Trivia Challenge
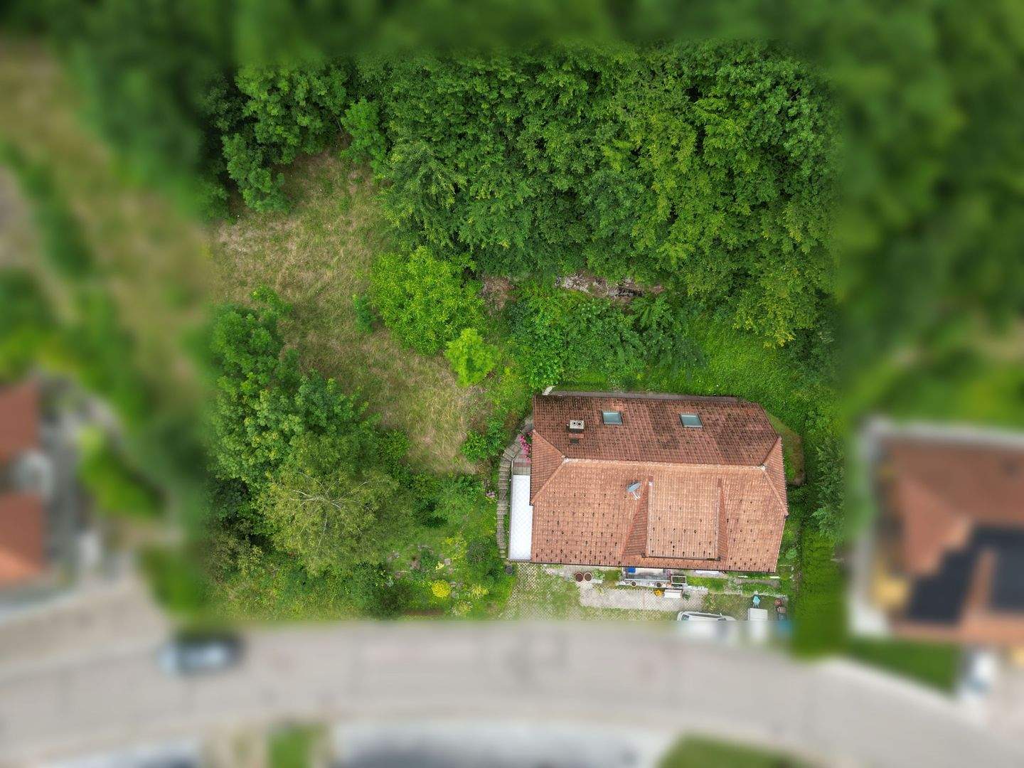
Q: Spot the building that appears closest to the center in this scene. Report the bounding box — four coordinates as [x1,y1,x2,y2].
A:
[527,393,790,574]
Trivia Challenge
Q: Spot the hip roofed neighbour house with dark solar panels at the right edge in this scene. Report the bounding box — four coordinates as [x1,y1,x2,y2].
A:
[870,435,1024,651]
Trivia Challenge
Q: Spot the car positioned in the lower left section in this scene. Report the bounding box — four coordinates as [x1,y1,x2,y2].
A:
[168,636,243,675]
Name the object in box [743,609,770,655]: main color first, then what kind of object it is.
white trailer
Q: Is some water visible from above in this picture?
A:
No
